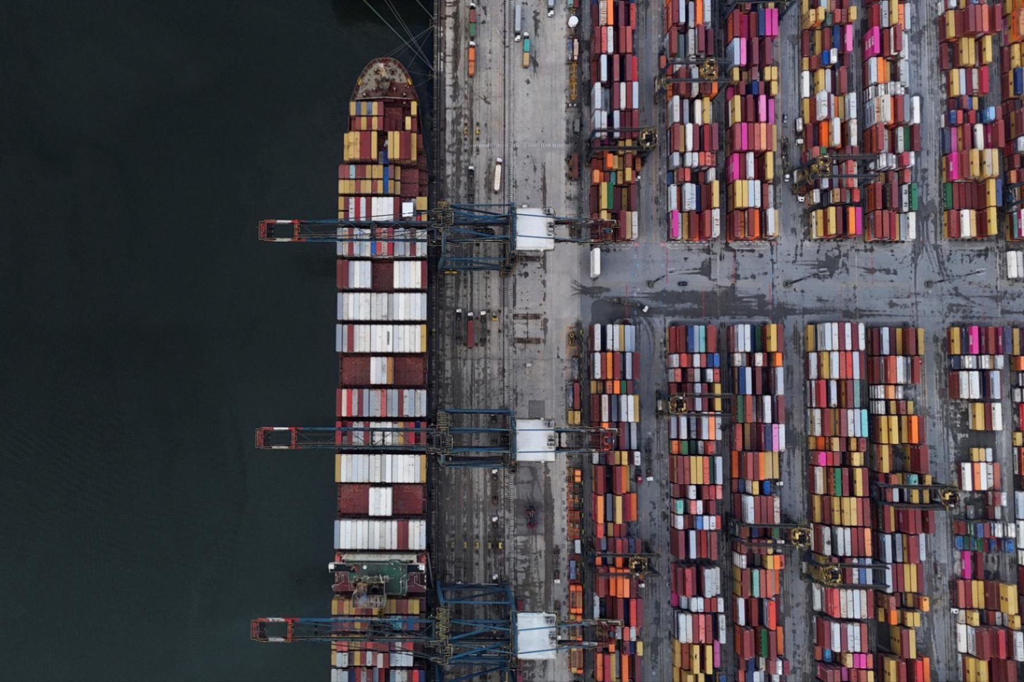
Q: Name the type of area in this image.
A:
port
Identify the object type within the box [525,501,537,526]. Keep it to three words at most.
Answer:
vehicle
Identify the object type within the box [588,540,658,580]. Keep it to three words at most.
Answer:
container crane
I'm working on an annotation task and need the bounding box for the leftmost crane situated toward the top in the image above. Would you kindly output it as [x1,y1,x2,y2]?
[257,198,620,284]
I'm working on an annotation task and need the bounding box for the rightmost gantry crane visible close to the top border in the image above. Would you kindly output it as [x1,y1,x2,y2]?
[722,0,799,28]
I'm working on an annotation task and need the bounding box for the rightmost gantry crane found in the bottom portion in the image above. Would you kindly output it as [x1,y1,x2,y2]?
[867,476,957,511]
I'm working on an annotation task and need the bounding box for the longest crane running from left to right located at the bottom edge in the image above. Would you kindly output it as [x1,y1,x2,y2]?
[250,560,624,672]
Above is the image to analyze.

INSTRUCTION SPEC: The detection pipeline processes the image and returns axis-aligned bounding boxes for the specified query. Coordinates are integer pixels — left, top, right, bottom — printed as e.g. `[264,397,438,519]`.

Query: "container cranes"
[250,560,624,672]
[658,59,731,102]
[722,0,799,28]
[253,397,622,474]
[587,127,656,166]
[804,551,888,592]
[660,391,735,420]
[867,476,957,511]
[257,198,620,284]
[588,540,658,580]
[729,513,808,550]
